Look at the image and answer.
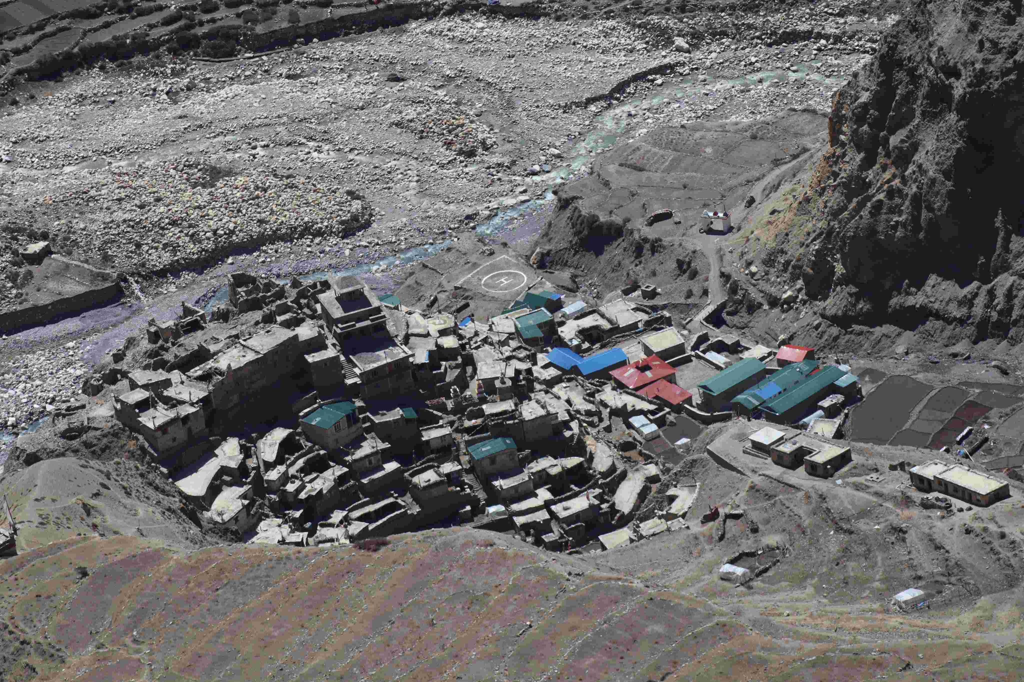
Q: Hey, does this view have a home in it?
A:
Yes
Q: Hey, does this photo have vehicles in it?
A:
No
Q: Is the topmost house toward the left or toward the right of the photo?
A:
left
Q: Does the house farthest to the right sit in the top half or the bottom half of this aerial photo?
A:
bottom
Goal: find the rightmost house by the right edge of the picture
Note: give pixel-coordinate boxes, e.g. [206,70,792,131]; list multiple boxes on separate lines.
[934,463,1008,507]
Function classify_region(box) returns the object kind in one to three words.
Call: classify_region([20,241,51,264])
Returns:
house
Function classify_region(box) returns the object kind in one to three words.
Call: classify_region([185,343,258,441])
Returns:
house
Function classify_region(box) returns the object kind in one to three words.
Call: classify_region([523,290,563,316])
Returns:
shed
